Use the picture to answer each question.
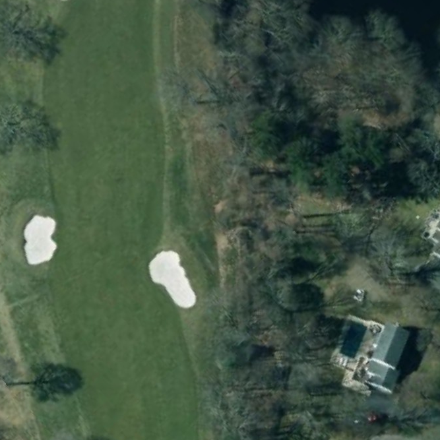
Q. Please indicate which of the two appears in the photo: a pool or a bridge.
pool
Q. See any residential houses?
Yes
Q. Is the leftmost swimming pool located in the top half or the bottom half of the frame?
bottom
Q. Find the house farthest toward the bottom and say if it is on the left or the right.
right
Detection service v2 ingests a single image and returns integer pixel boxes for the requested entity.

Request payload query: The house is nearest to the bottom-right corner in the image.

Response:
[365,320,412,390]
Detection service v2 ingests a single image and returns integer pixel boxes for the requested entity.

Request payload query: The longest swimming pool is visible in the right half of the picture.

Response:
[339,321,369,359]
